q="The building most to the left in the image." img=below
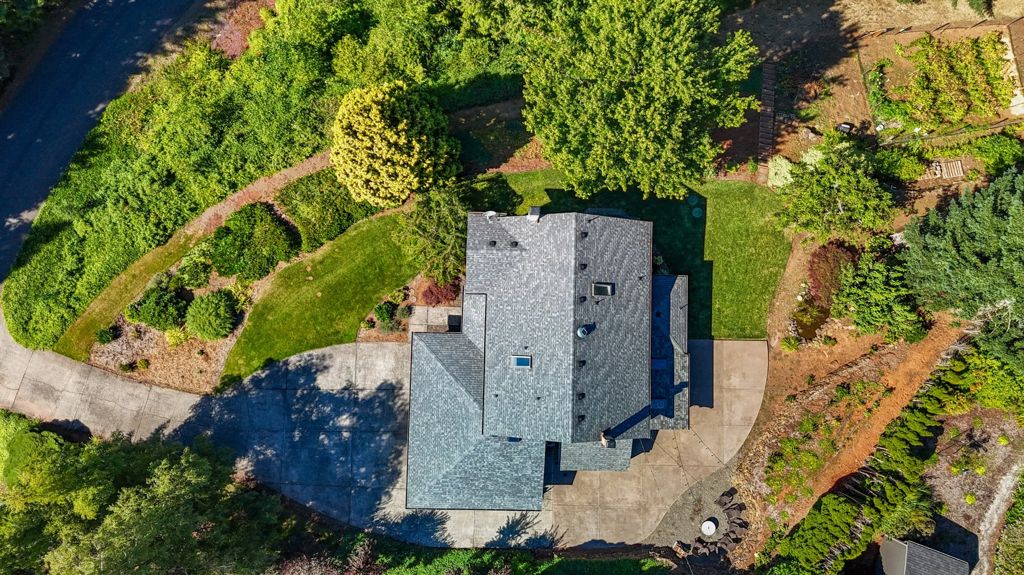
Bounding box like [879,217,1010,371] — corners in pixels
[404,208,691,512]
